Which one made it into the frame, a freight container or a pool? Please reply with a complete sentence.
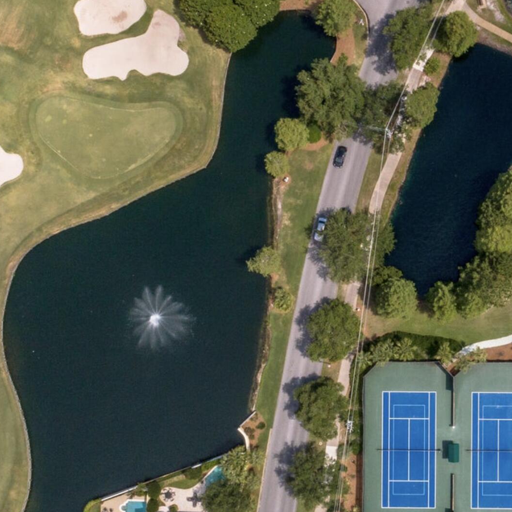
Looking from above, you can make out a pool.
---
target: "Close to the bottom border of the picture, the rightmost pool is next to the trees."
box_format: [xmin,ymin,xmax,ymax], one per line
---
[202,464,228,489]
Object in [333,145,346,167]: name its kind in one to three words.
vehicle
